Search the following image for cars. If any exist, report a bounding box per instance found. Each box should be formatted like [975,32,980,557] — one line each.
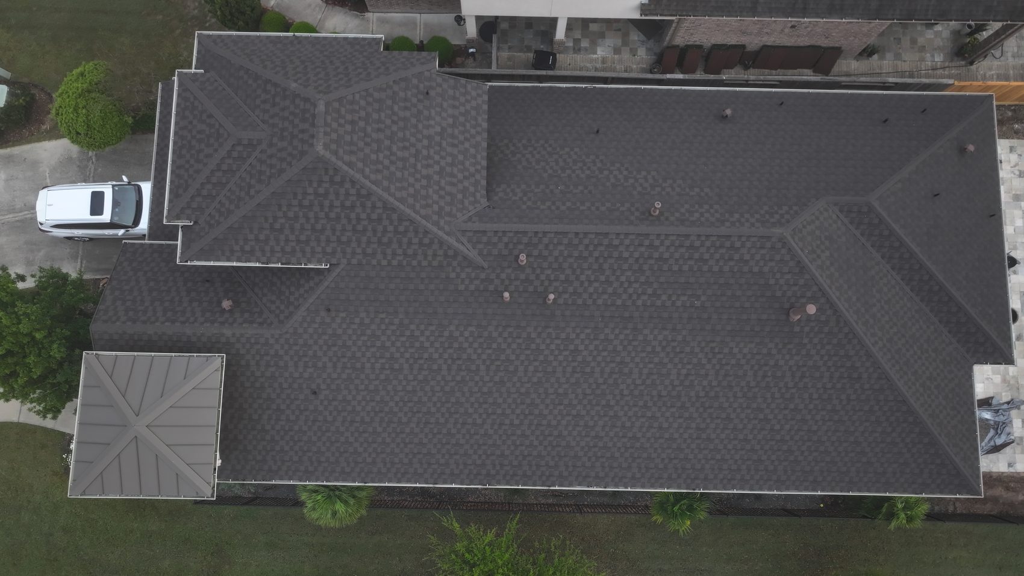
[34,177,149,239]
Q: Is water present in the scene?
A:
No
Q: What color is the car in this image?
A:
white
